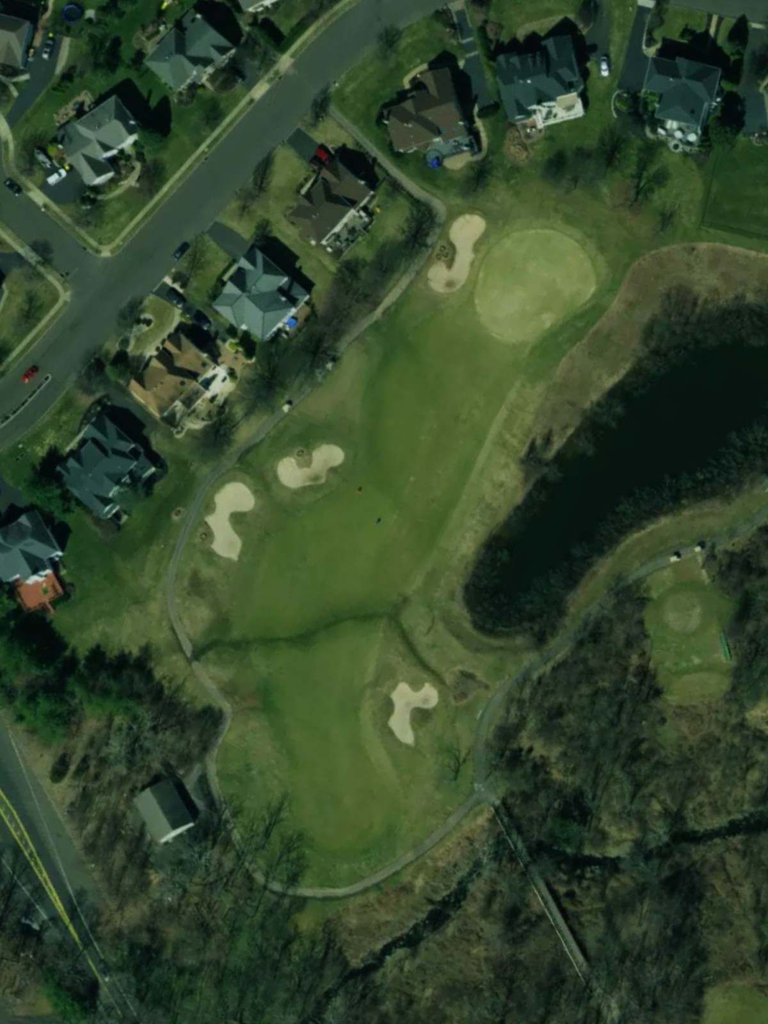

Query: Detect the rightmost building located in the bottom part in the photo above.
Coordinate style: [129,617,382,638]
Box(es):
[135,778,194,841]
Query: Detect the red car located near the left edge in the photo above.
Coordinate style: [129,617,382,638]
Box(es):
[22,366,38,382]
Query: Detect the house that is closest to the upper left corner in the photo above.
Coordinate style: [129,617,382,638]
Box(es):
[0,16,32,74]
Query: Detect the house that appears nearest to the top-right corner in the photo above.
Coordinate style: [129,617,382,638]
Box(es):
[645,51,720,145]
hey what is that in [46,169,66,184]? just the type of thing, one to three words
car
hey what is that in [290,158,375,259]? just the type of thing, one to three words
house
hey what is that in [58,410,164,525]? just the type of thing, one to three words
house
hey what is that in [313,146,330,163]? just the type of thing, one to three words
car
